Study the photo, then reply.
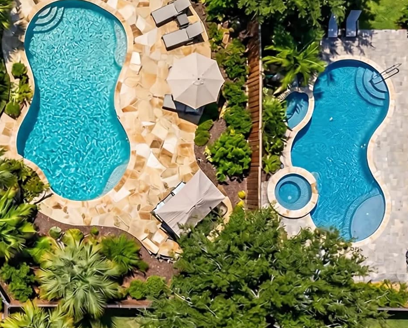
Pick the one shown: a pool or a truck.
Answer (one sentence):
This aerial view contains a pool.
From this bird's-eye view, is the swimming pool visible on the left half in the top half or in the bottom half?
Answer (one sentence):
It is in the top half that the swimming pool visible on the left half appears.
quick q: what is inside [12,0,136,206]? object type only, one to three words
swimming pool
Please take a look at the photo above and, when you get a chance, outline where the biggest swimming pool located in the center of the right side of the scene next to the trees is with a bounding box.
[286,54,395,247]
